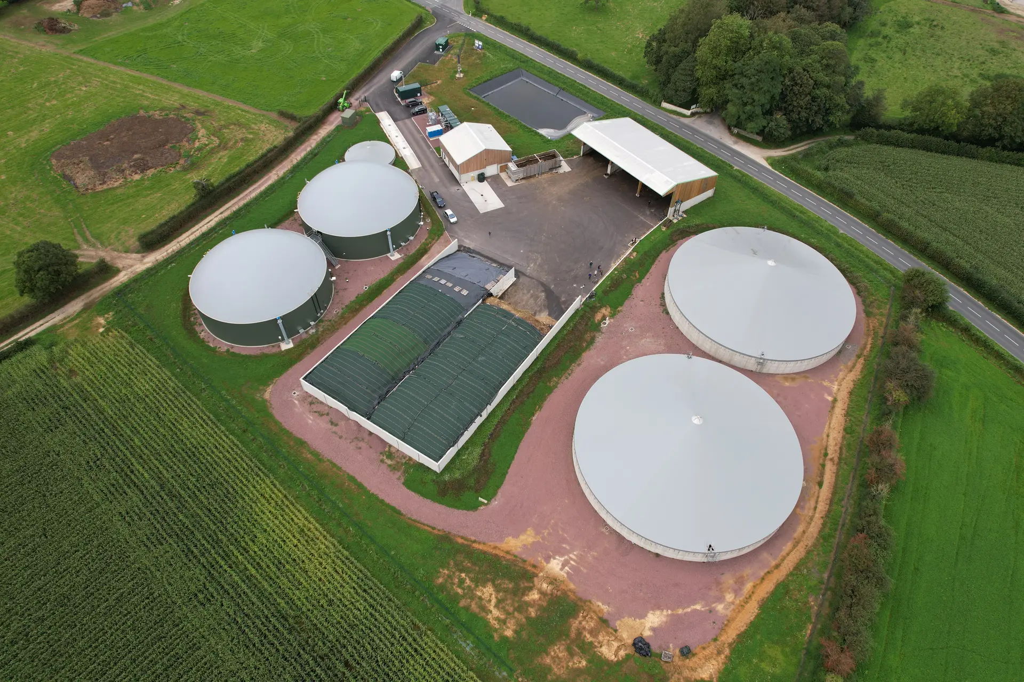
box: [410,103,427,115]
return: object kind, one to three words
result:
vehicle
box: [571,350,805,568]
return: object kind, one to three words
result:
storage tank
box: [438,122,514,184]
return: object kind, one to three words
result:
building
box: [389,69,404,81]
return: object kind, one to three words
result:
vehicle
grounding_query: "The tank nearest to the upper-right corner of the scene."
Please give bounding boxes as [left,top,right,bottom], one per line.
[664,223,857,375]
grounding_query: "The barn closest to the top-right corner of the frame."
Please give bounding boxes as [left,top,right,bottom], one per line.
[570,115,722,217]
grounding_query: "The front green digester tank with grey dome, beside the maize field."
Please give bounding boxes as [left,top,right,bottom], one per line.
[185,223,337,352]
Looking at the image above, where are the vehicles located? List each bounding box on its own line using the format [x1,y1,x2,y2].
[410,103,427,115]
[444,209,458,224]
[334,85,354,111]
[389,69,404,81]
[429,189,447,207]
[406,97,425,107]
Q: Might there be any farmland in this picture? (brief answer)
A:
Yes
